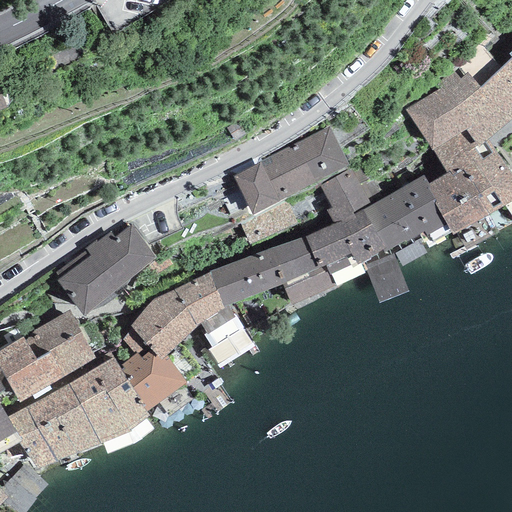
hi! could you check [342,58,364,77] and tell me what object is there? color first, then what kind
white car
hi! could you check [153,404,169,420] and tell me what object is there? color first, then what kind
white umbrella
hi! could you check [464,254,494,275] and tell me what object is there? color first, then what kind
white boat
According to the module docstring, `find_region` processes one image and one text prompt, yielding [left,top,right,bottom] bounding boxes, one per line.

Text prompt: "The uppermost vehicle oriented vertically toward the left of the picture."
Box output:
[154,210,168,234]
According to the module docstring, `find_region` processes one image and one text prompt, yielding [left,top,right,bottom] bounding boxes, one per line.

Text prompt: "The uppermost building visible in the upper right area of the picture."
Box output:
[406,58,512,148]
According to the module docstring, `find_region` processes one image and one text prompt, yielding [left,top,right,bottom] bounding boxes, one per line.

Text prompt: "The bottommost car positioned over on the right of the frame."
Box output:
[300,93,322,112]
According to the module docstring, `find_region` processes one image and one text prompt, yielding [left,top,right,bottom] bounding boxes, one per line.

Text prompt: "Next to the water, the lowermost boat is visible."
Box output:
[66,459,90,471]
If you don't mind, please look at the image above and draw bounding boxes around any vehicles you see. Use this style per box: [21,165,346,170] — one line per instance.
[47,234,68,250]
[362,39,383,58]
[68,216,91,234]
[154,210,168,234]
[1,264,23,279]
[342,58,364,77]
[94,202,118,218]
[300,93,322,112]
[123,0,146,12]
[396,0,416,18]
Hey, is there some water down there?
Yes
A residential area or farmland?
residential area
